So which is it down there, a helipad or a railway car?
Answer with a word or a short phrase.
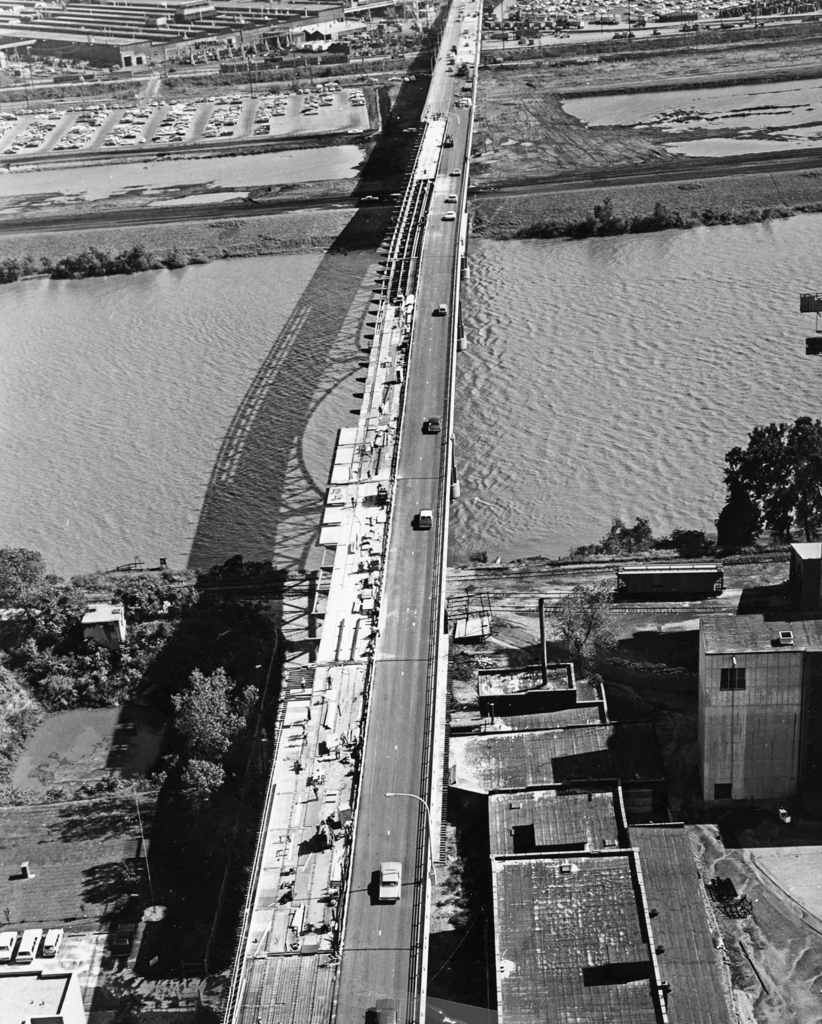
railway car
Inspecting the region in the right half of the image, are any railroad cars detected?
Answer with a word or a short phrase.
Yes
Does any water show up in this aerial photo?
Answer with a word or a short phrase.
Yes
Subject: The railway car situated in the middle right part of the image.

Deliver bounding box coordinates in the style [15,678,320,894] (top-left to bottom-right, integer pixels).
[615,566,727,596]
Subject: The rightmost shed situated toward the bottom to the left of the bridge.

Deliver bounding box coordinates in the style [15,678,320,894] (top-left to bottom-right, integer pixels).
[81,603,125,645]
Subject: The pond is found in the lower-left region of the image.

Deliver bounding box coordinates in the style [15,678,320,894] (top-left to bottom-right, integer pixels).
[11,702,172,800]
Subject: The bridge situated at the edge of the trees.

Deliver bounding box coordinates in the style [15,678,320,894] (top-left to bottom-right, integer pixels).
[215,0,483,1024]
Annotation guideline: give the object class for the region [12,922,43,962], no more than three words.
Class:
car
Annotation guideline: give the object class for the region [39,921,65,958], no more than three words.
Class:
car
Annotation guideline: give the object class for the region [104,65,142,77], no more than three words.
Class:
rail car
